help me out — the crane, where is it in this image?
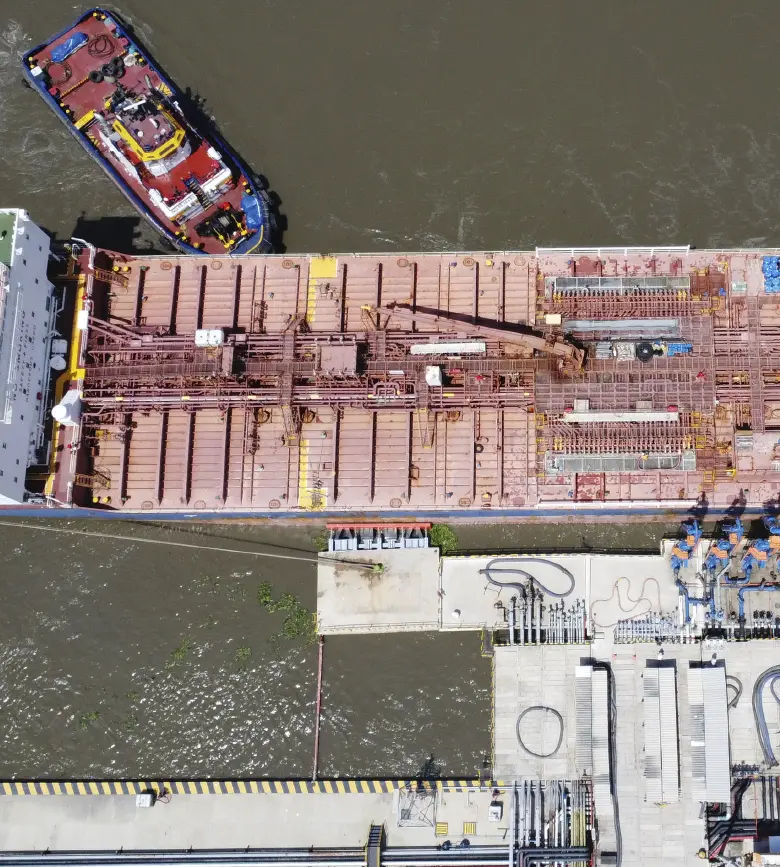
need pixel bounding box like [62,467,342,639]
[373,301,586,378]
